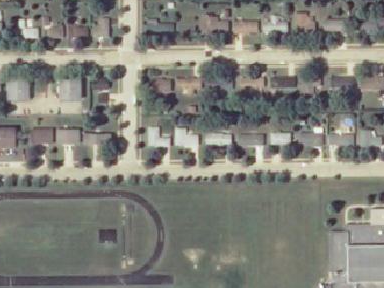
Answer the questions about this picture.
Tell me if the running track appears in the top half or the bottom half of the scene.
bottom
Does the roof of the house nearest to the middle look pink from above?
No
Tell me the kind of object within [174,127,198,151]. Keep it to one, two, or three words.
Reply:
house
